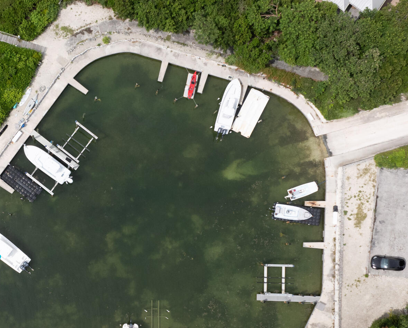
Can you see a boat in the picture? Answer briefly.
Yes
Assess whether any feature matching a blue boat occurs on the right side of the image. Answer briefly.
No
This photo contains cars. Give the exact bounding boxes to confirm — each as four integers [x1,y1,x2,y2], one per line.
[369,254,406,272]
